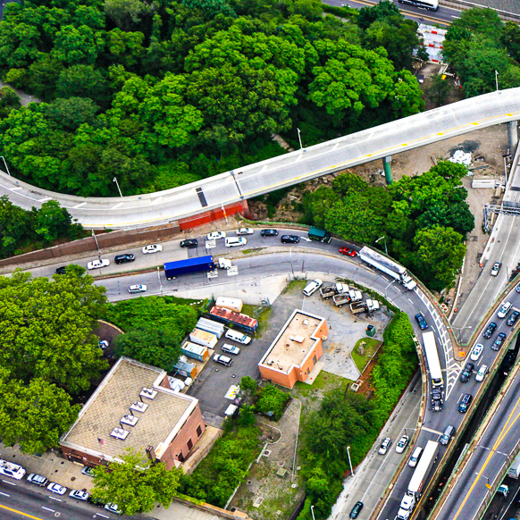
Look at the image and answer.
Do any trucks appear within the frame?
Yes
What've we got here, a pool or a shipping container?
shipping container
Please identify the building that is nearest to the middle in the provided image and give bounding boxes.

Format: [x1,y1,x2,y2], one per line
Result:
[257,309,326,389]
